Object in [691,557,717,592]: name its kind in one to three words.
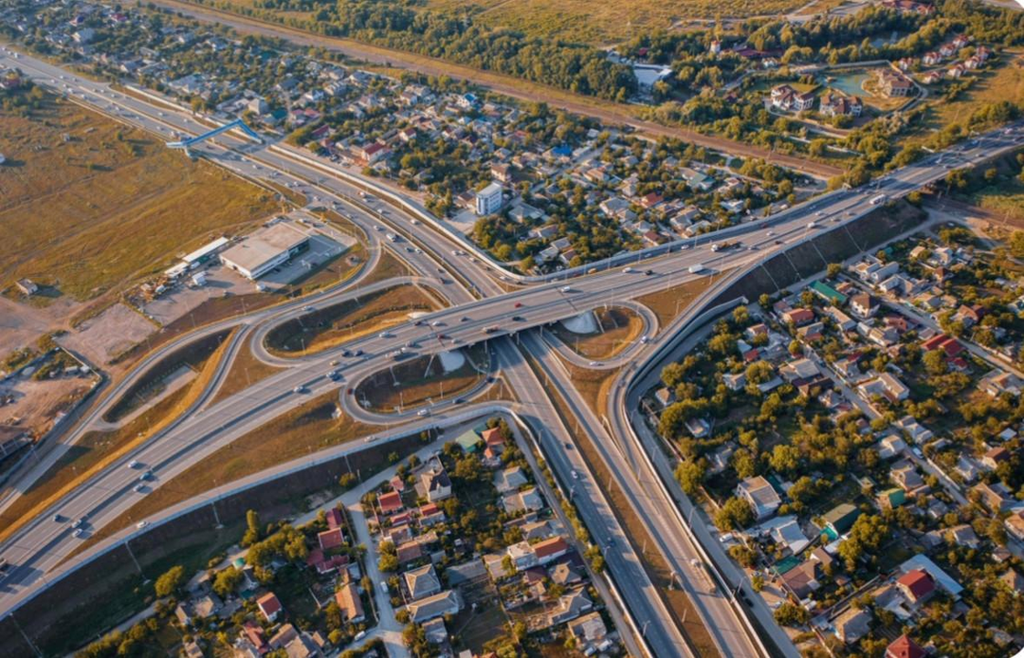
truck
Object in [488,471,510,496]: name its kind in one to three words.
house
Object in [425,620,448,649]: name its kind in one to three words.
shed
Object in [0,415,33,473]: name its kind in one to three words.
building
